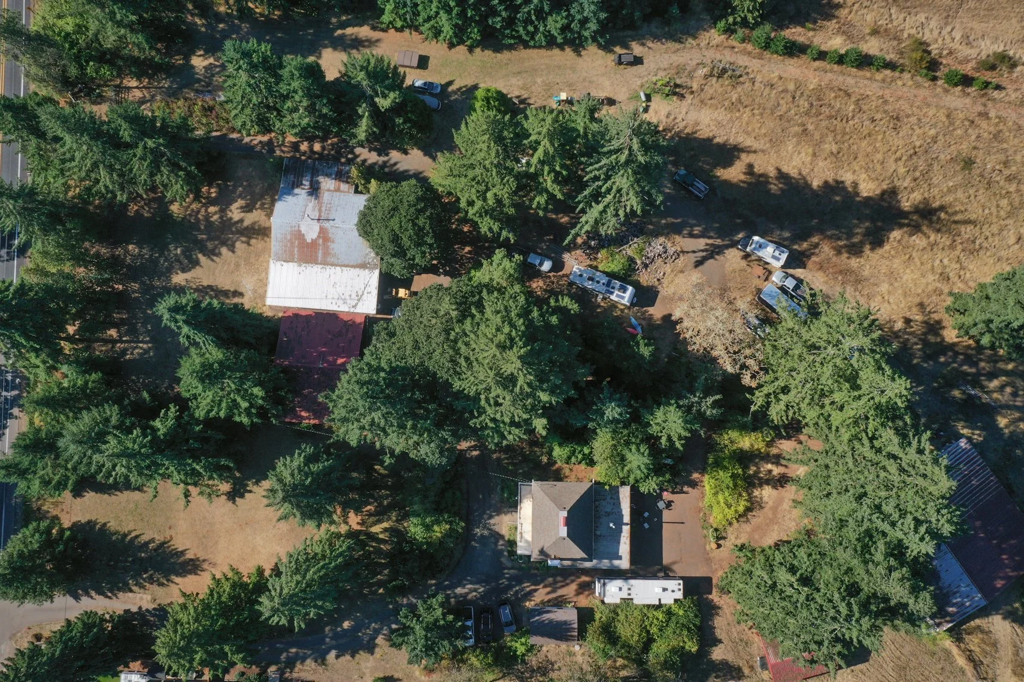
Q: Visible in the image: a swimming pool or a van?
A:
van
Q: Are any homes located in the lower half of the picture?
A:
Yes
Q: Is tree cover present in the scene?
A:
Yes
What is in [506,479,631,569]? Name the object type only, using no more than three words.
house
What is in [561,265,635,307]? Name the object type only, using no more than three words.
trailer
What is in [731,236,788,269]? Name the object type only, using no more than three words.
van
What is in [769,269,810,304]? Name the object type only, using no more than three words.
truck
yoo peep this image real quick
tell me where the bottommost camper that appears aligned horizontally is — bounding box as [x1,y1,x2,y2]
[593,565,684,603]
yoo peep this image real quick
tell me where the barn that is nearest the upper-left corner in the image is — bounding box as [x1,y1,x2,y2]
[265,158,385,314]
